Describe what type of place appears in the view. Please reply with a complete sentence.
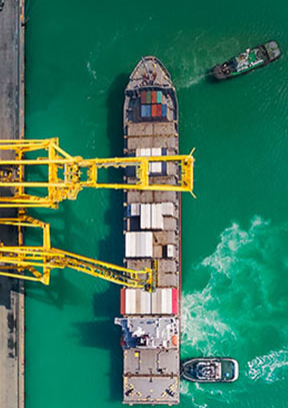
This image shows a port.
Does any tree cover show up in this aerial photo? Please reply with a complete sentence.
No, the picture contains no tree cover.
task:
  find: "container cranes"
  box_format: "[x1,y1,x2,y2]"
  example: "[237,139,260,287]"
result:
[0,135,193,210]
[0,210,150,289]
